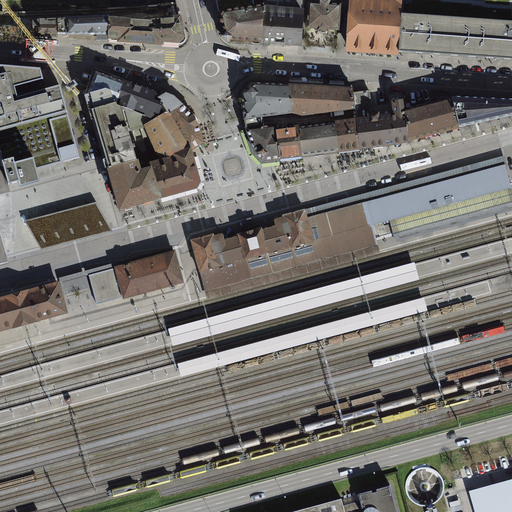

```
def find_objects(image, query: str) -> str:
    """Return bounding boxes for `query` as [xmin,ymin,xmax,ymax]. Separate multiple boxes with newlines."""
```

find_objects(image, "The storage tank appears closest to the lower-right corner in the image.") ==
[405,464,444,510]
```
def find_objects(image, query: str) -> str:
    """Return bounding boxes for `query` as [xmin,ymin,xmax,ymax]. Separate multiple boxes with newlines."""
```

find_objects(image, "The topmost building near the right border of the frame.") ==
[400,12,512,58]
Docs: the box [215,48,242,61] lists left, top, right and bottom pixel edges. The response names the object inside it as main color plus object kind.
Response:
white vehicle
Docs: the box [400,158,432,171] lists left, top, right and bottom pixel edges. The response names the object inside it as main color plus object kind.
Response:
white vehicle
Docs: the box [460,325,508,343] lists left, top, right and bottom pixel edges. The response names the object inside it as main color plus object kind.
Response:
red rail car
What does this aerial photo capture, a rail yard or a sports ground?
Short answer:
rail yard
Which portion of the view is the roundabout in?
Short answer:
top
